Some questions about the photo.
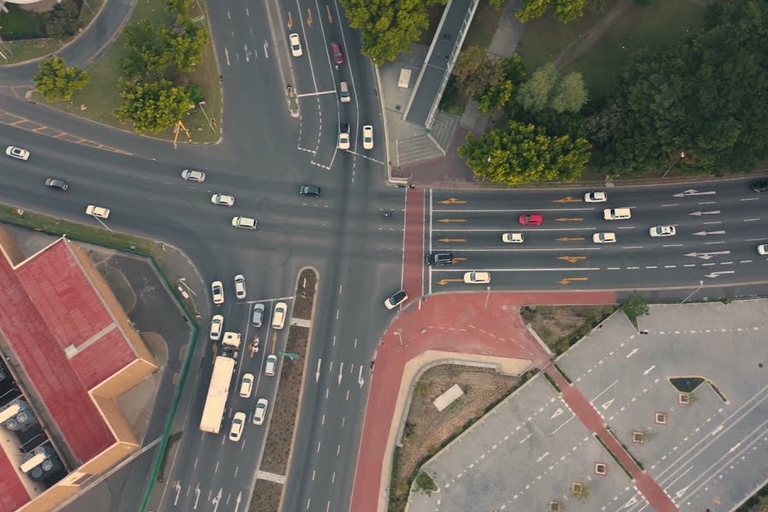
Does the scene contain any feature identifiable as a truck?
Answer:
Yes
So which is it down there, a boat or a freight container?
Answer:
freight container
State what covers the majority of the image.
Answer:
paved ground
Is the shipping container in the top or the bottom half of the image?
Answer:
bottom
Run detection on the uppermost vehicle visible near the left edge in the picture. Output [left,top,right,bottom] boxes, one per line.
[5,146,32,162]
